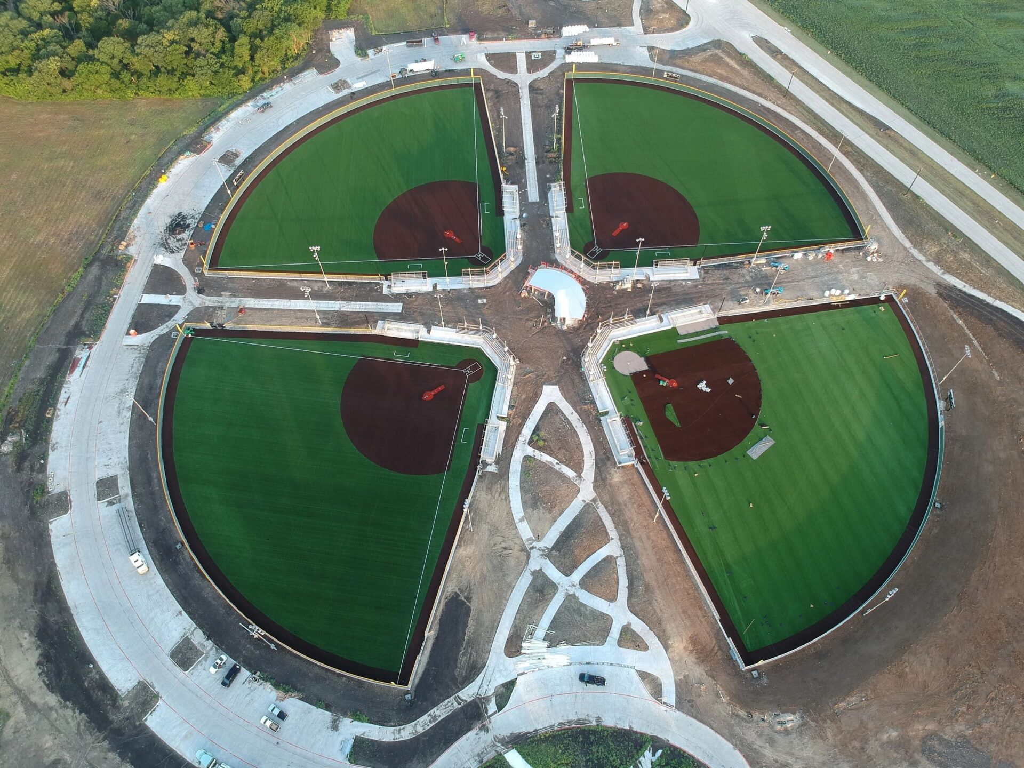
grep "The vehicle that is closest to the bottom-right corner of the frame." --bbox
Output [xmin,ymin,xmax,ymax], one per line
[578,673,608,687]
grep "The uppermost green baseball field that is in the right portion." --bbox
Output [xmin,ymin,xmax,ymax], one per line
[562,78,866,267]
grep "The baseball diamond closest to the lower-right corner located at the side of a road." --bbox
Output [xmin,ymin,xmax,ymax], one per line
[600,295,938,661]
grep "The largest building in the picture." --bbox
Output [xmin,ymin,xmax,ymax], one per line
[522,265,591,327]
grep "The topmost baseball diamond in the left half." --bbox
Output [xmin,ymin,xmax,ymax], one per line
[207,82,506,282]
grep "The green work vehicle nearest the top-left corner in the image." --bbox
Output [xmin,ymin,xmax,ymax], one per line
[182,325,200,338]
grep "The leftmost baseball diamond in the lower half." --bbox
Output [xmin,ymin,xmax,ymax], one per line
[163,328,497,681]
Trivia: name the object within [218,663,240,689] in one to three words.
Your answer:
car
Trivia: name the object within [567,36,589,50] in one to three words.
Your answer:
vehicle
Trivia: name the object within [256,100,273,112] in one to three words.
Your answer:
vehicle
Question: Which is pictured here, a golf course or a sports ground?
sports ground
